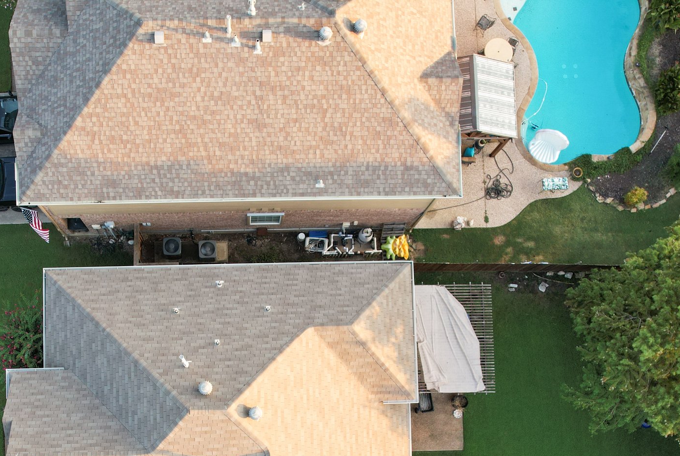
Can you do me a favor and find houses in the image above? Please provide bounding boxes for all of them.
[8,0,464,255]
[2,258,420,456]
